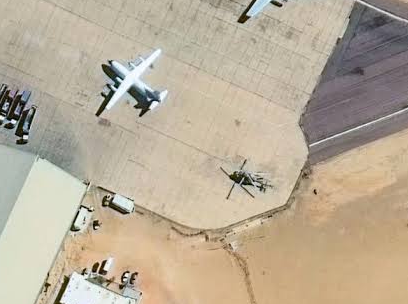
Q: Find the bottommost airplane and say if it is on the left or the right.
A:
left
